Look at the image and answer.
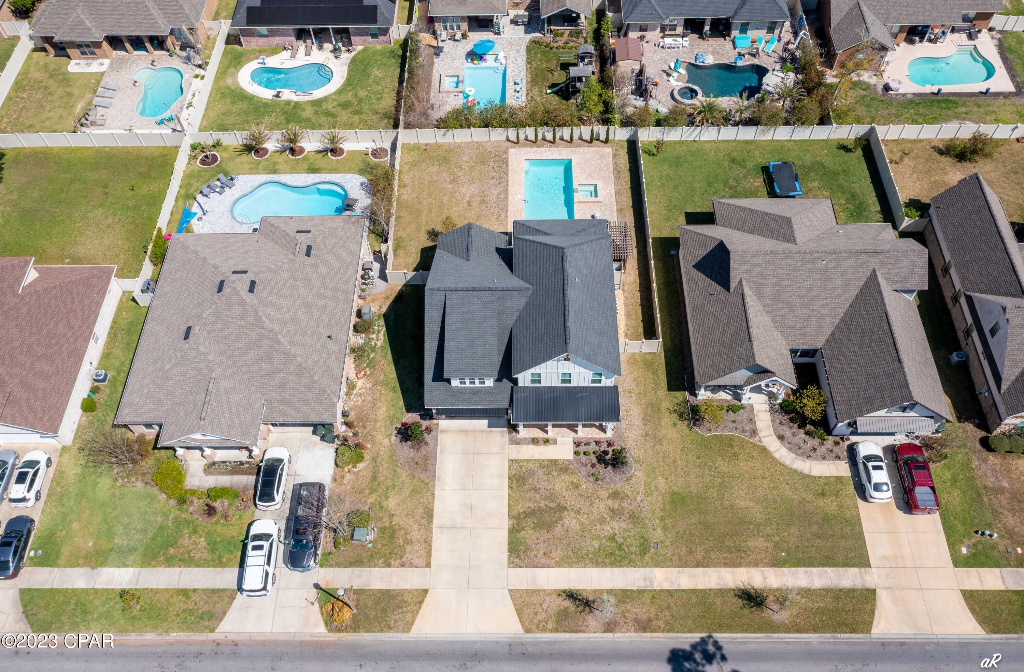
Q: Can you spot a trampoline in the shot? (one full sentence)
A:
Yes, a trampoline appears in the view.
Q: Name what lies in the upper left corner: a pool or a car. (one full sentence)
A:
What appears in the upper left corner is a pool.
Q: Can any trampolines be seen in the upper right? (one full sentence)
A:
Yes, I can see a trampoline in the upper right.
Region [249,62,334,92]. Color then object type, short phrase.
blue swimming pool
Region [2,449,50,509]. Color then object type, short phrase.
white car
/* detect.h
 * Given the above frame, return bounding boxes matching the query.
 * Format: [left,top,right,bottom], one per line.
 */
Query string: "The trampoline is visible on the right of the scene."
[768,160,801,198]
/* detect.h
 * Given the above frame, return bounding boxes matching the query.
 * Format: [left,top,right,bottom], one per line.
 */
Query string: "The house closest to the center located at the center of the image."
[424,218,621,439]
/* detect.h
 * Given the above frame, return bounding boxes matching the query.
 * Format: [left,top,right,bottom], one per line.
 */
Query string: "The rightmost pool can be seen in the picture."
[906,43,997,87]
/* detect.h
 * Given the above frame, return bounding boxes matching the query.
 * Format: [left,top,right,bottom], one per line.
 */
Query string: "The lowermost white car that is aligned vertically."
[239,519,280,594]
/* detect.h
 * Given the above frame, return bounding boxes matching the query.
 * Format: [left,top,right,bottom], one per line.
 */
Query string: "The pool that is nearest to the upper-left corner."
[132,64,186,119]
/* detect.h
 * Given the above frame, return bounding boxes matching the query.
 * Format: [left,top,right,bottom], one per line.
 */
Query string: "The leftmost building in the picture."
[0,256,118,446]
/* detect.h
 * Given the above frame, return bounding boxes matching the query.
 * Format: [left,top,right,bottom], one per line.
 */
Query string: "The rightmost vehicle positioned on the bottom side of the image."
[894,443,944,517]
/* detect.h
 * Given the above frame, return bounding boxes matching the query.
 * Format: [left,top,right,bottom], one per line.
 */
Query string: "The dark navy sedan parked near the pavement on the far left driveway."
[0,513,32,581]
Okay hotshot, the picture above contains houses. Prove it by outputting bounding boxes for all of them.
[119,214,367,460]
[675,198,953,433]
[921,172,1024,434]
[0,256,118,446]
[31,0,216,62]
[230,0,397,48]
[424,218,621,439]
[810,0,1003,72]
[427,0,541,36]
[620,0,790,39]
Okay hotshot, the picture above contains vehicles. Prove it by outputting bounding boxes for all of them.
[0,513,32,581]
[894,443,944,517]
[856,439,898,504]
[2,449,50,509]
[283,488,323,571]
[0,449,18,502]
[252,444,290,509]
[239,519,280,594]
